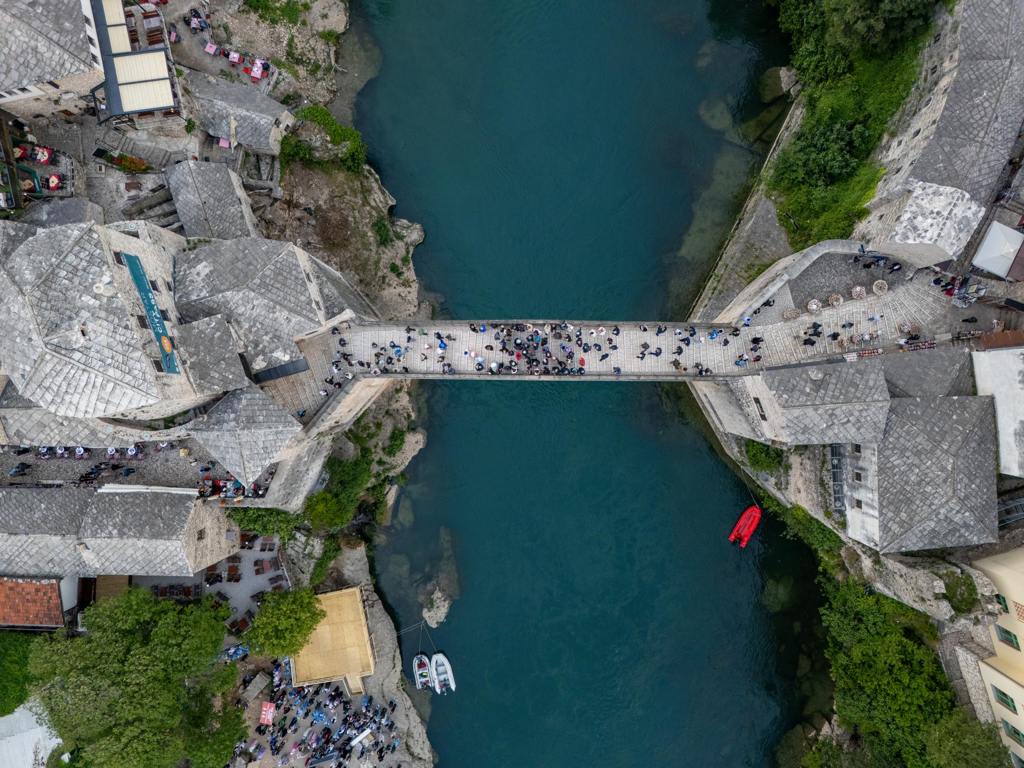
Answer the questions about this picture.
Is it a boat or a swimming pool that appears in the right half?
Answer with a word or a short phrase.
boat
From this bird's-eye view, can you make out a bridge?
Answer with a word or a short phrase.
Yes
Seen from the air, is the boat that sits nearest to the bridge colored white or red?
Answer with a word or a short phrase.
red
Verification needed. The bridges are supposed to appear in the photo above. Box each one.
[346,319,749,382]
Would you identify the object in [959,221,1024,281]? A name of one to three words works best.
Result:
tent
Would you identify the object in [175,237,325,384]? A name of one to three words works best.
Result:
house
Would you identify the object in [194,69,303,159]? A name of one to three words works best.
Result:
house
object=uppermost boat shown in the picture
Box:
[727,507,760,551]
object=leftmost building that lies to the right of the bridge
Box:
[745,351,891,446]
